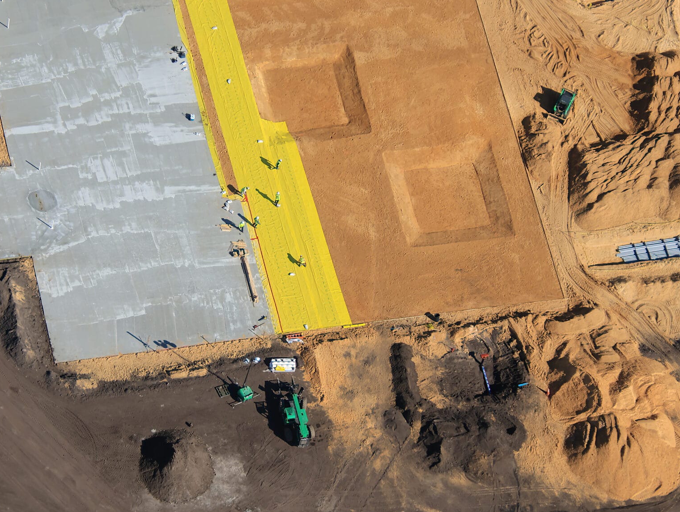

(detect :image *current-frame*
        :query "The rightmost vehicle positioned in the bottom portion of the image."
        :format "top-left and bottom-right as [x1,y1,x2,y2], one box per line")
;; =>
[273,377,318,452]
